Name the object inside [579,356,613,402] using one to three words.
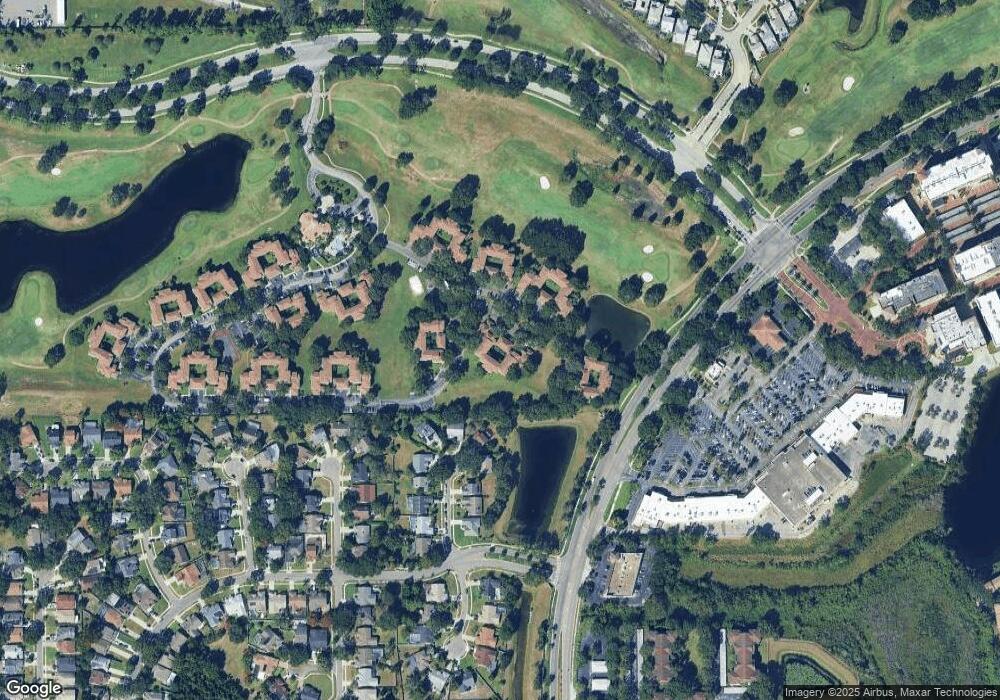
building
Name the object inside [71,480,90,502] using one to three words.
house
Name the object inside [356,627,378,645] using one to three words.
house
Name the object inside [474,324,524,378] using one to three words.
building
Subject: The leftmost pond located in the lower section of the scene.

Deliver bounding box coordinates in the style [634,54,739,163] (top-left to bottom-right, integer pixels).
[510,425,577,534]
